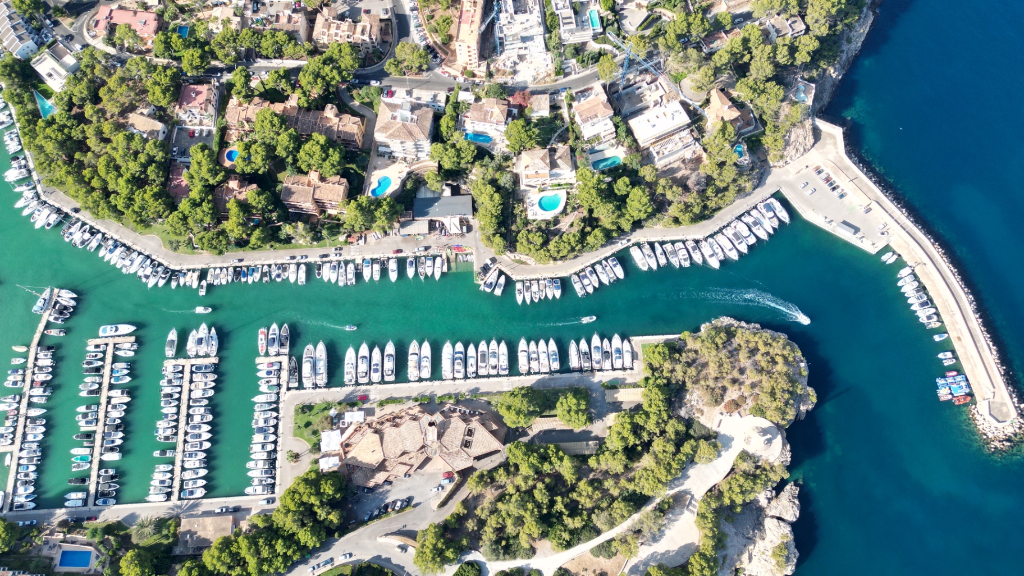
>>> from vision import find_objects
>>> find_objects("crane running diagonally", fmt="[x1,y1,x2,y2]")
[610,30,709,129]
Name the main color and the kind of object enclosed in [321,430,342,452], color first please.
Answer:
white tent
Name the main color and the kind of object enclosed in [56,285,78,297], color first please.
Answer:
white boat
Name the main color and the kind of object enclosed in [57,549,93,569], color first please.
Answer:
blue swimming pool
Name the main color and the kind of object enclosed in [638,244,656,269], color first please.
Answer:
white boat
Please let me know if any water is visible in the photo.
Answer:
Yes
